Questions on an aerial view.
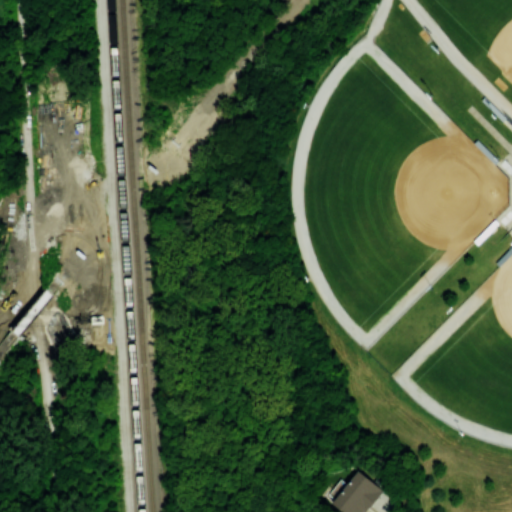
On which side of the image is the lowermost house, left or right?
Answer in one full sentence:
The lowermost house sits on the right side.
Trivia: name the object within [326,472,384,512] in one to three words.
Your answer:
house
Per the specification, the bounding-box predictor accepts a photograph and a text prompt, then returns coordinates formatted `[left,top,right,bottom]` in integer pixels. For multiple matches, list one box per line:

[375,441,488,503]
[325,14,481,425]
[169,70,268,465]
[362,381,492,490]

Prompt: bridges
[0,284,60,362]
